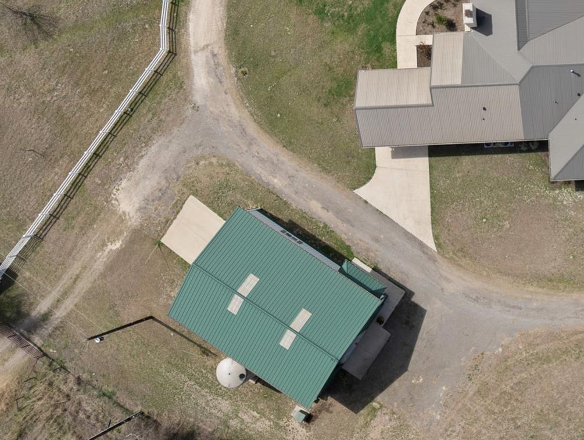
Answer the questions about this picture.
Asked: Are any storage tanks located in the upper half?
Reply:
No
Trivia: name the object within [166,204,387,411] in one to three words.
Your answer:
barn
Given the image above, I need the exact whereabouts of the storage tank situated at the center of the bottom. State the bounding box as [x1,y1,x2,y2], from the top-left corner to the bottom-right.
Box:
[217,356,253,387]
